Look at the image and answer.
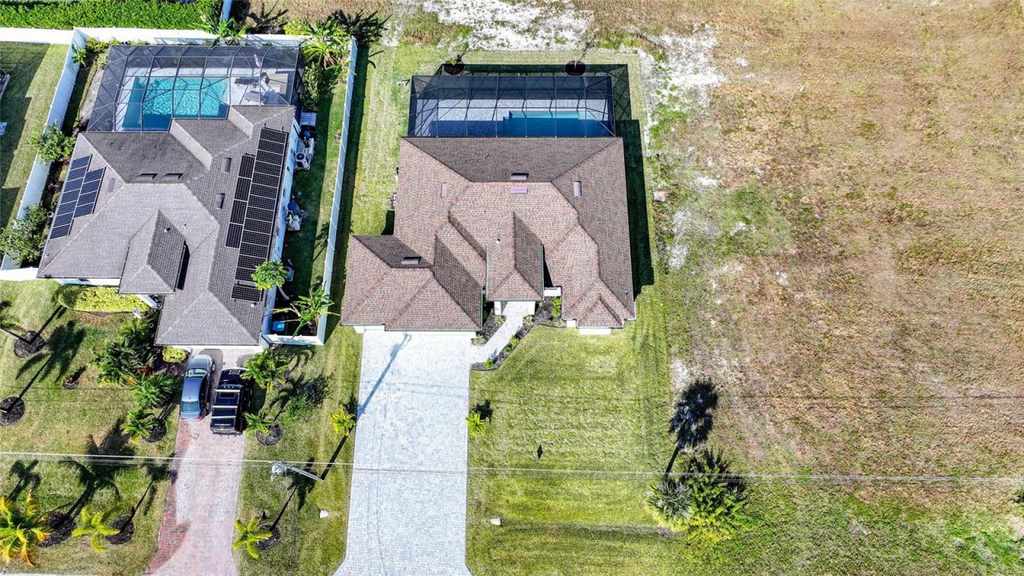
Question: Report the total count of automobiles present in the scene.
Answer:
2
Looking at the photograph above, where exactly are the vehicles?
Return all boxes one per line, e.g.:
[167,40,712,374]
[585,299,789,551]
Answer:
[211,367,257,439]
[178,353,216,422]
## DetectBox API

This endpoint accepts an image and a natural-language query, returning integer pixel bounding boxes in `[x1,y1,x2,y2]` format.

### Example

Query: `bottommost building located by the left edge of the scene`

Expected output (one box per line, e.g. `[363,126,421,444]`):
[35,105,299,354]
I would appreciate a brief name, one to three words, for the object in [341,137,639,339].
house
